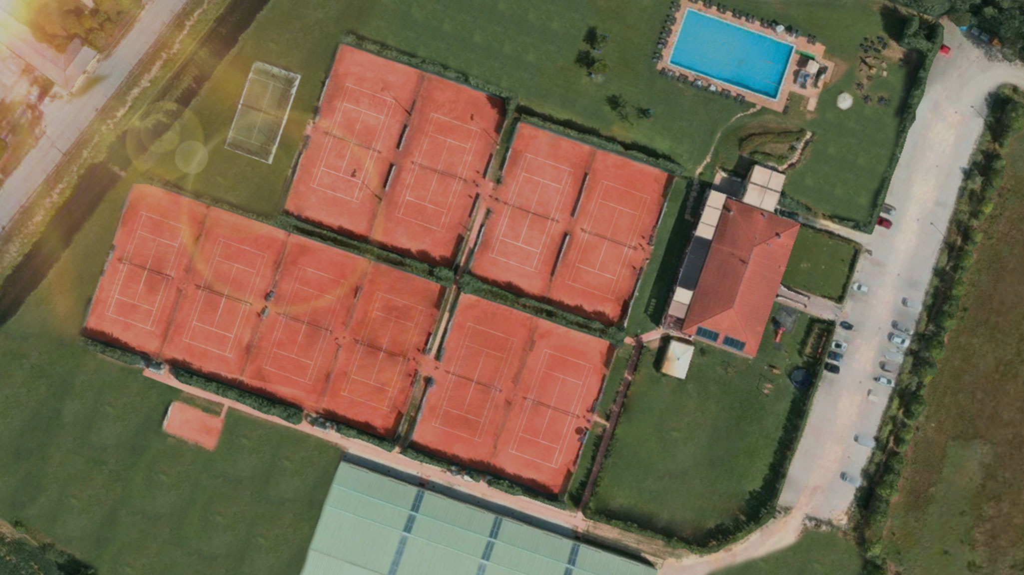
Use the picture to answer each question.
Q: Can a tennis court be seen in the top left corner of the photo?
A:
Yes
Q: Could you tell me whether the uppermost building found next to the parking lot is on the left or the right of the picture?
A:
right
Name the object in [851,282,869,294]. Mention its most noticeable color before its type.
white vehicle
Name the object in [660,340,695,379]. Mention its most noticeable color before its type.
white gazebo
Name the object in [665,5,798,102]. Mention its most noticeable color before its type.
blue swimming pool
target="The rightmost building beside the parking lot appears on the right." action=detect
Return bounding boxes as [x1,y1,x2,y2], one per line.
[659,166,799,358]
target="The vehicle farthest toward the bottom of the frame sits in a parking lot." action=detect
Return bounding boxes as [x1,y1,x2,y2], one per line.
[840,473,860,485]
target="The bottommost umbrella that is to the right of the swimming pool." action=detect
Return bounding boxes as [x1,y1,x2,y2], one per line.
[837,92,853,108]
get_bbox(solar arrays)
[723,336,746,351]
[697,326,719,341]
